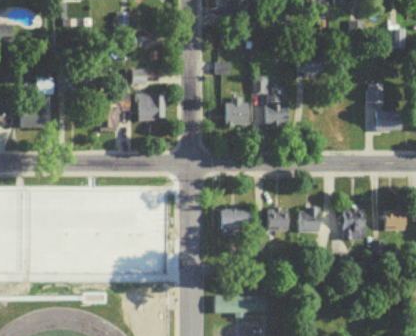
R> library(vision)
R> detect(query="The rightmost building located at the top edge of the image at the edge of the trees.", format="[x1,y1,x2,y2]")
[388,9,406,48]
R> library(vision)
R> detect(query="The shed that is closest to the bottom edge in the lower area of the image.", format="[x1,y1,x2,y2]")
[214,296,263,319]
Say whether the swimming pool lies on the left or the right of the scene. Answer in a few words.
left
